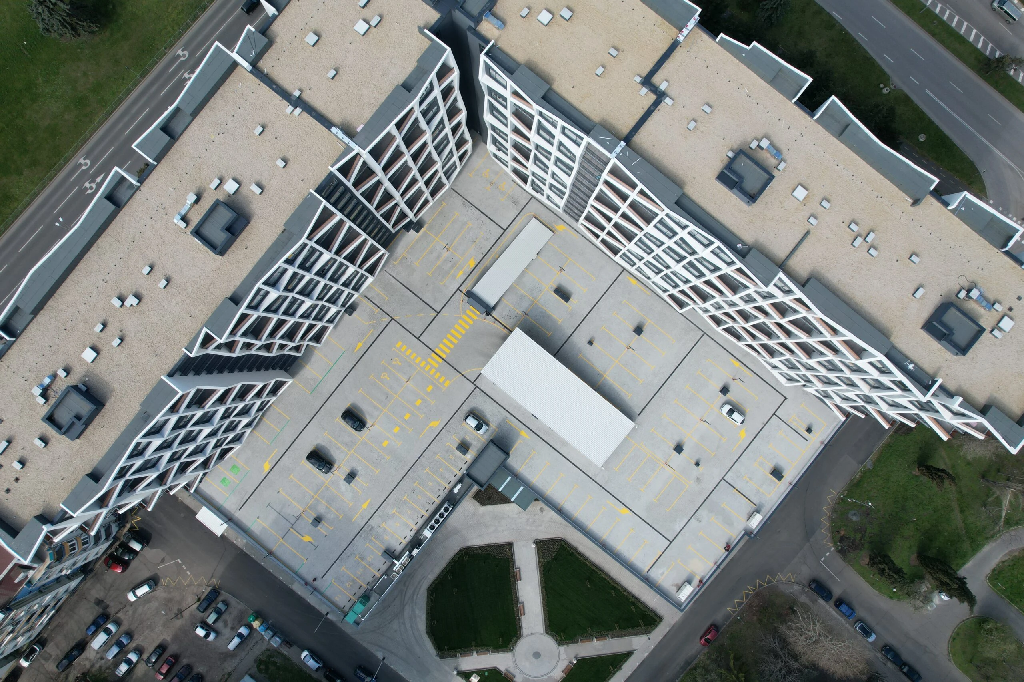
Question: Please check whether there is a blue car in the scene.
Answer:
Yes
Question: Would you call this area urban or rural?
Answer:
urban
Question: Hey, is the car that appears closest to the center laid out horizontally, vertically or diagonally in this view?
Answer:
diagonally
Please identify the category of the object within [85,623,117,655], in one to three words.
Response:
vehicle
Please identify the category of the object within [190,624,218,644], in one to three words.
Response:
car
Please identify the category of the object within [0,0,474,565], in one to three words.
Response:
building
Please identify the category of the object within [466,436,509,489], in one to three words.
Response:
house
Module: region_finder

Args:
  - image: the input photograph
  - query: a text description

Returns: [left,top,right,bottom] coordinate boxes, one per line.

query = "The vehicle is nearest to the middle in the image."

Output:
[462,412,489,436]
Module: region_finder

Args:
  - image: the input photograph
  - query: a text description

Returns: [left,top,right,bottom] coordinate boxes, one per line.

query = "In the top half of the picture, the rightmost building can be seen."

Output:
[452,0,1024,456]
